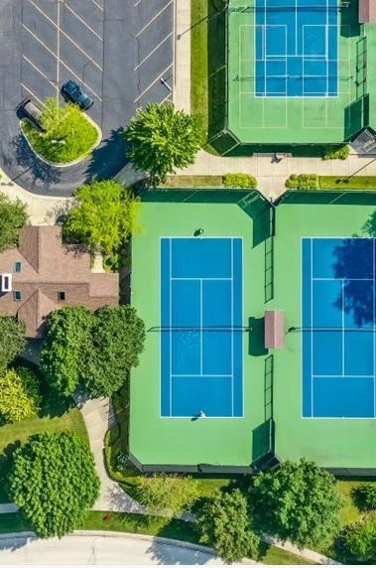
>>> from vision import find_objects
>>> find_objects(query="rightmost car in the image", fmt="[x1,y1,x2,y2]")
[59,79,94,109]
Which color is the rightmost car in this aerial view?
blue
